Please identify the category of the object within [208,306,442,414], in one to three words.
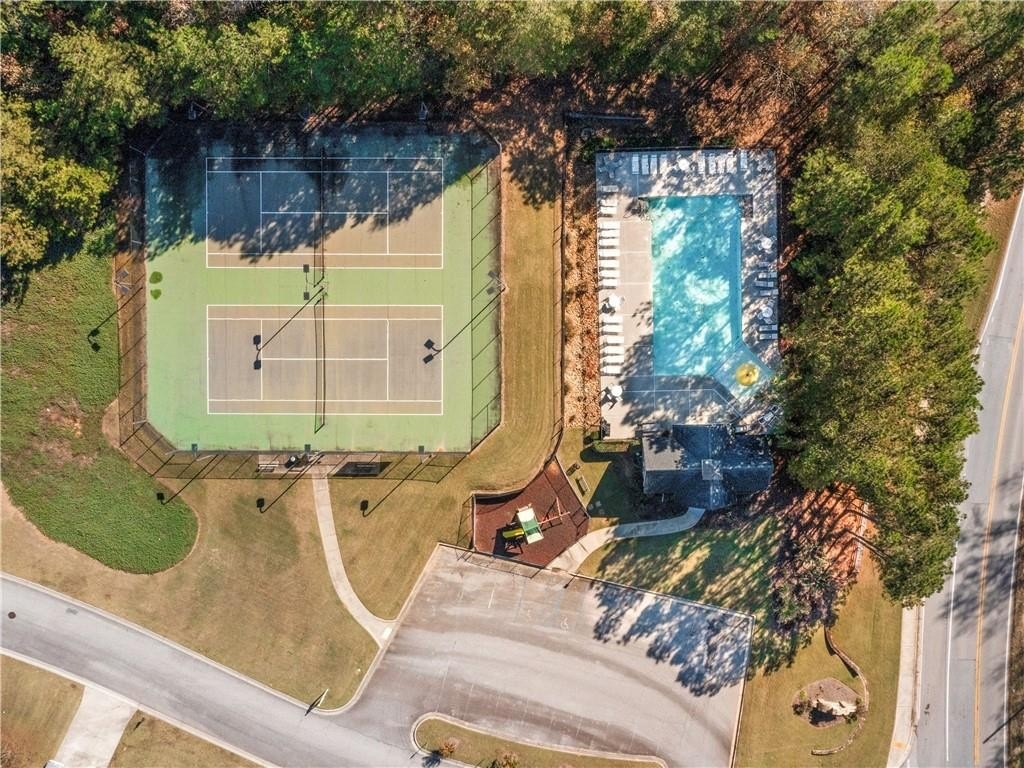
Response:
tennis court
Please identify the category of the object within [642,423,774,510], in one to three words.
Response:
building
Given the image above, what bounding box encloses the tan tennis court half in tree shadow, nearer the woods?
[207,158,442,266]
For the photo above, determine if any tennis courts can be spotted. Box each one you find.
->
[207,158,442,266]
[208,306,442,414]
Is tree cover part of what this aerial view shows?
Yes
